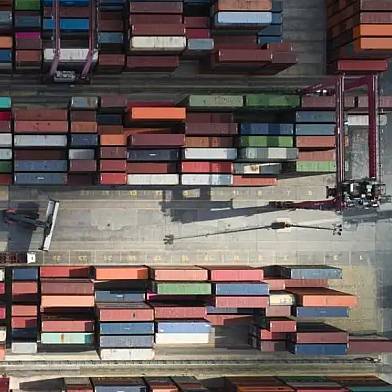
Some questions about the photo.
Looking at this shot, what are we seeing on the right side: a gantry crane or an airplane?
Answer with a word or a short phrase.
gantry crane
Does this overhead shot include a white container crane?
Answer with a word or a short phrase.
No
